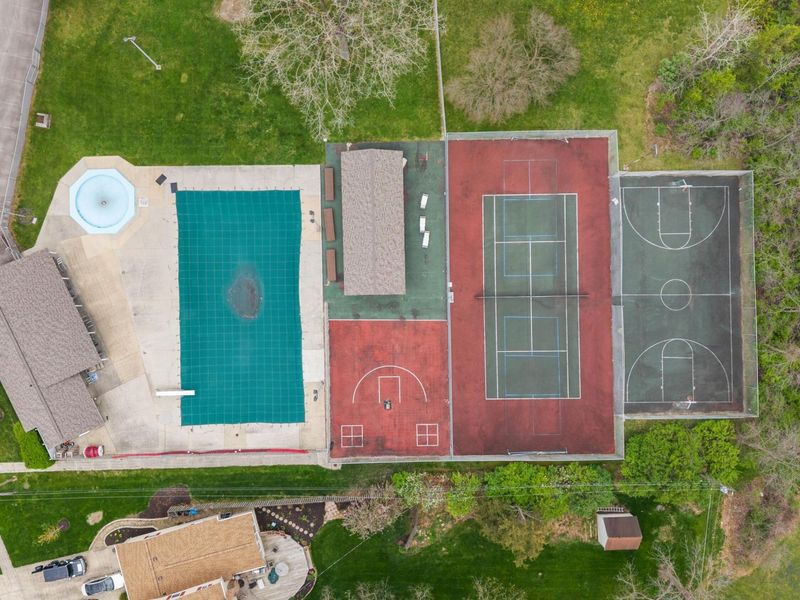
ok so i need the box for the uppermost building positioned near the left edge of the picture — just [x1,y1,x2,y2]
[0,249,109,459]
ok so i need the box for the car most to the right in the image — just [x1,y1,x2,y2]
[81,567,123,594]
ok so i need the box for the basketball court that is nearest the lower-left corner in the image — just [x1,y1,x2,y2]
[329,320,452,462]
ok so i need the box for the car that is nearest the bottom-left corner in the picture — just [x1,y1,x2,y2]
[43,553,88,582]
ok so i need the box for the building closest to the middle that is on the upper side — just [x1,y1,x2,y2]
[341,148,405,297]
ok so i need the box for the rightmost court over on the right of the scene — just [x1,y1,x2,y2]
[620,177,743,412]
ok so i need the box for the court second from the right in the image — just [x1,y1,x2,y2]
[449,137,615,458]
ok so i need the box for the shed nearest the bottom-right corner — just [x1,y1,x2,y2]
[598,514,642,550]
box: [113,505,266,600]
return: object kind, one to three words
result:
house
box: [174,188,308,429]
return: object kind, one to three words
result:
swimming pool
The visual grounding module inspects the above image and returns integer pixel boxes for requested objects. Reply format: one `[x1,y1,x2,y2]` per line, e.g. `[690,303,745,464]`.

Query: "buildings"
[113,505,266,600]
[598,514,642,550]
[341,148,405,297]
[0,249,109,459]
